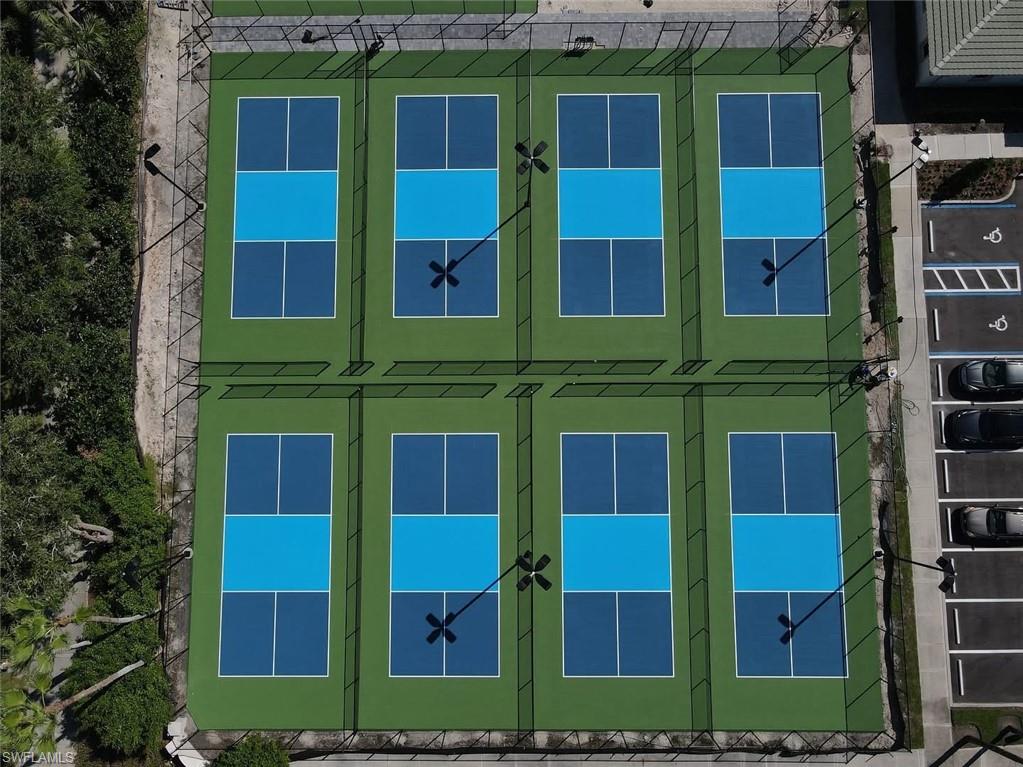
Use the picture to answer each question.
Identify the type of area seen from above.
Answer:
sports ground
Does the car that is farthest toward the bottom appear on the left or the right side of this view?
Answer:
right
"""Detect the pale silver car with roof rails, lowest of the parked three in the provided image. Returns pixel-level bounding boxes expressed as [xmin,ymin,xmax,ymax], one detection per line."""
[958,503,1023,545]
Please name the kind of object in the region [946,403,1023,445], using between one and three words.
car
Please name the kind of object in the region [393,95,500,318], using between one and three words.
sports court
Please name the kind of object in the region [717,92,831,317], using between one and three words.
sports court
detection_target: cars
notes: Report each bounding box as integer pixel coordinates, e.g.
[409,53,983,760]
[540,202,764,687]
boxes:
[946,403,1023,445]
[958,503,1023,545]
[953,354,1023,394]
